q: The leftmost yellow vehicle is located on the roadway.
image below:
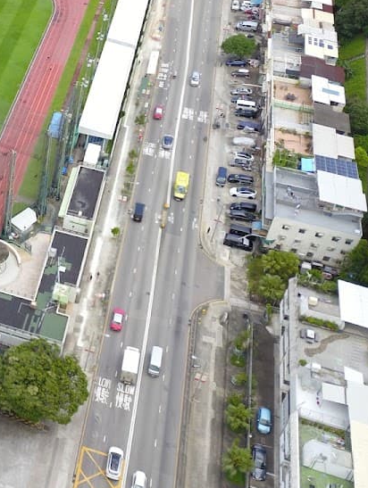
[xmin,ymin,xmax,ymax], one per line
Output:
[174,166,189,195]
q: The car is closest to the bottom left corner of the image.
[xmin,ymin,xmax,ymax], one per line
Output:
[106,445,125,480]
